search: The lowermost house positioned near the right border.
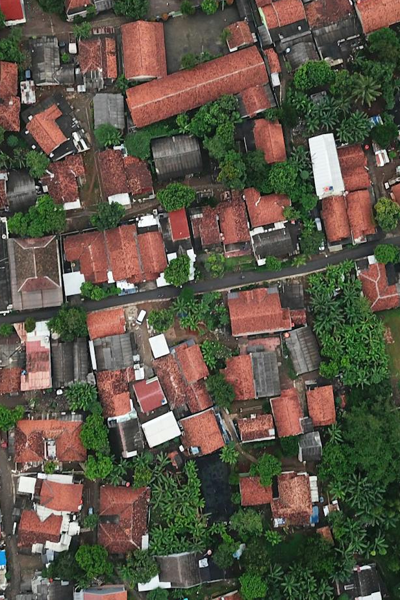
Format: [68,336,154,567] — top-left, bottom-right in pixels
[355,566,382,597]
